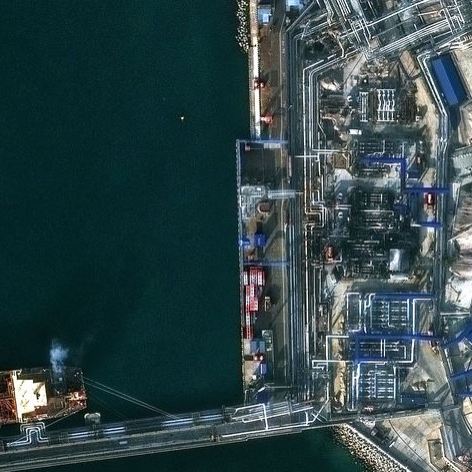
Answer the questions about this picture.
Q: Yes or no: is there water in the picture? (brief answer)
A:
Yes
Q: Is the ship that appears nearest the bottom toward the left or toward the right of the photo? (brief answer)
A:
left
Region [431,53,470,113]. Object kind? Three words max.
shed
